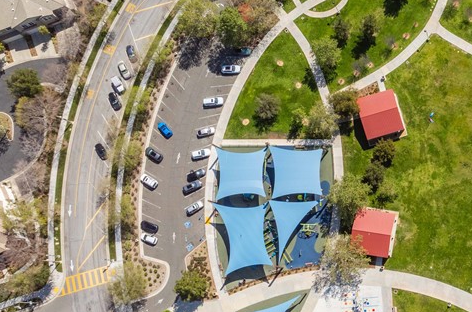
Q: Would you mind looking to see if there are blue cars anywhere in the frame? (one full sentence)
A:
Yes, the picture does show a blue car.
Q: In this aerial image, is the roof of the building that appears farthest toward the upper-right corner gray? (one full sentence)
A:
No, the roof of the building that appears farthest toward the upper-right corner is red.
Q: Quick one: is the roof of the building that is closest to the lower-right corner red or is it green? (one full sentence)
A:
From above, the roof of the building that is closest to the lower-right corner appears red.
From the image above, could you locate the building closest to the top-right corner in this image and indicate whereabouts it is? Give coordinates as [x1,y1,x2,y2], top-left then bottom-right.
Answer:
[357,87,410,140]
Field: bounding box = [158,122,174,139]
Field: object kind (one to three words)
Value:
car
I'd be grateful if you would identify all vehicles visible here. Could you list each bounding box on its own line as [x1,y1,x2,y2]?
[222,64,242,74]
[110,76,126,95]
[108,92,122,111]
[140,221,161,233]
[94,142,108,162]
[146,147,164,163]
[184,201,204,215]
[191,149,211,159]
[188,169,208,179]
[118,61,132,80]
[125,44,138,64]
[140,234,161,245]
[197,128,217,137]
[237,47,254,56]
[183,182,203,194]
[203,97,224,107]
[158,122,174,139]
